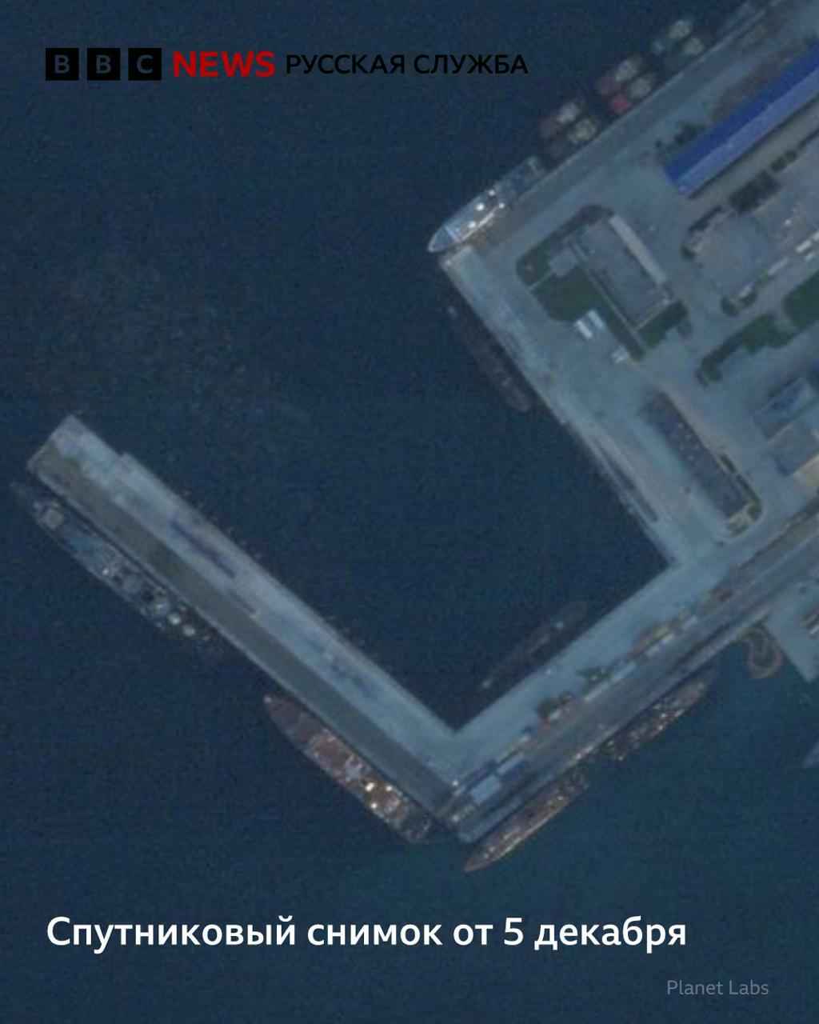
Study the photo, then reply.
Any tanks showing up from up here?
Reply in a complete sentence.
No, no tank is visible in the scene.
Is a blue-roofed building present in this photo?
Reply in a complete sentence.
Yes, a blue-roofed building can be made out from above.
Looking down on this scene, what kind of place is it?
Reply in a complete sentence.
What you see here is a port.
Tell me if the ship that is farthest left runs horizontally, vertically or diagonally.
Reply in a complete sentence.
In this picture, the ship that is farthest left lies diagonally.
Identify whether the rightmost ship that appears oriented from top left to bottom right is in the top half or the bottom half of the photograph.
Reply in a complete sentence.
Seen from above, the rightmost ship that appears oriented from top left to bottom right lies in the top half of the view.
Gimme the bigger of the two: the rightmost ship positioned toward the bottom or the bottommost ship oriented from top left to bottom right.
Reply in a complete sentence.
Of the two, the bottommost ship oriented from top left to bottom right is bigger, while the rightmost ship positioned toward the bottom is smaller.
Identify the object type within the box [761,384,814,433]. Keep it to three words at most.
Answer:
shed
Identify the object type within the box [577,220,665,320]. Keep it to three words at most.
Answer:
building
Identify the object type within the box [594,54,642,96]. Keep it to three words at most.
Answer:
boat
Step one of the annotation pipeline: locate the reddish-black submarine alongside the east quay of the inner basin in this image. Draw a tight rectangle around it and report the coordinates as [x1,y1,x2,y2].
[459,305,528,411]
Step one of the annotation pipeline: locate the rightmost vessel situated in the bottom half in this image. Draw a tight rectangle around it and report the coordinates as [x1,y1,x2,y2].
[603,670,718,764]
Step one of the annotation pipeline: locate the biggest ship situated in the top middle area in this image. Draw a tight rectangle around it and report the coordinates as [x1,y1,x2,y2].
[428,154,550,251]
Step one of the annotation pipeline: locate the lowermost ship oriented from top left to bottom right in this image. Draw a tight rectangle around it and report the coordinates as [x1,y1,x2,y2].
[264,695,441,851]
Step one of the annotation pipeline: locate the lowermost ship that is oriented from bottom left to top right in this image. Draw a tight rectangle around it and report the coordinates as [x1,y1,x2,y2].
[466,765,596,870]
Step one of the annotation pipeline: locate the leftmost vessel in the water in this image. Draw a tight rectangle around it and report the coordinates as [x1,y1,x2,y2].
[9,484,227,663]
